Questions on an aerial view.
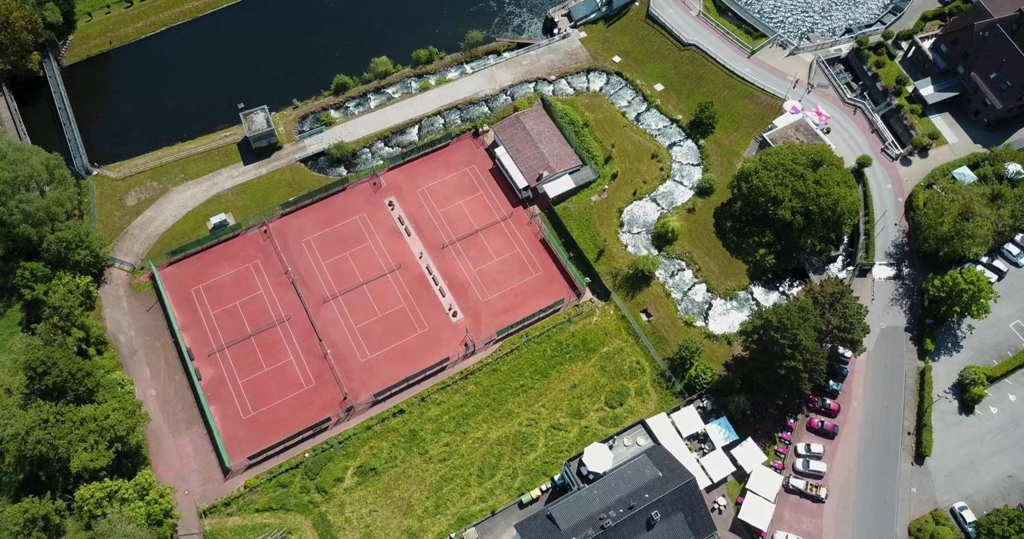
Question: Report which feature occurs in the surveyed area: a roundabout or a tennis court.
tennis court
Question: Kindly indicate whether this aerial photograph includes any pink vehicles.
Yes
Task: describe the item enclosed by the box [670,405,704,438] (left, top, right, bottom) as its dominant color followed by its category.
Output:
white umbrella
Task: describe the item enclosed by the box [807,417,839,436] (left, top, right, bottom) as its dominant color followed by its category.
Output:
pink car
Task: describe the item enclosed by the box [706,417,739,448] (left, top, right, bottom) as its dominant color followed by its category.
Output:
white umbrella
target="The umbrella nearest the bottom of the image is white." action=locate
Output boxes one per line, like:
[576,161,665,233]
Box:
[737,495,774,533]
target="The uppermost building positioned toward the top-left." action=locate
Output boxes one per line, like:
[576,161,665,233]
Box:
[240,105,280,151]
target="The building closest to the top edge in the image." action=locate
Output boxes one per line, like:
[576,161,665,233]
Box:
[551,0,635,35]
